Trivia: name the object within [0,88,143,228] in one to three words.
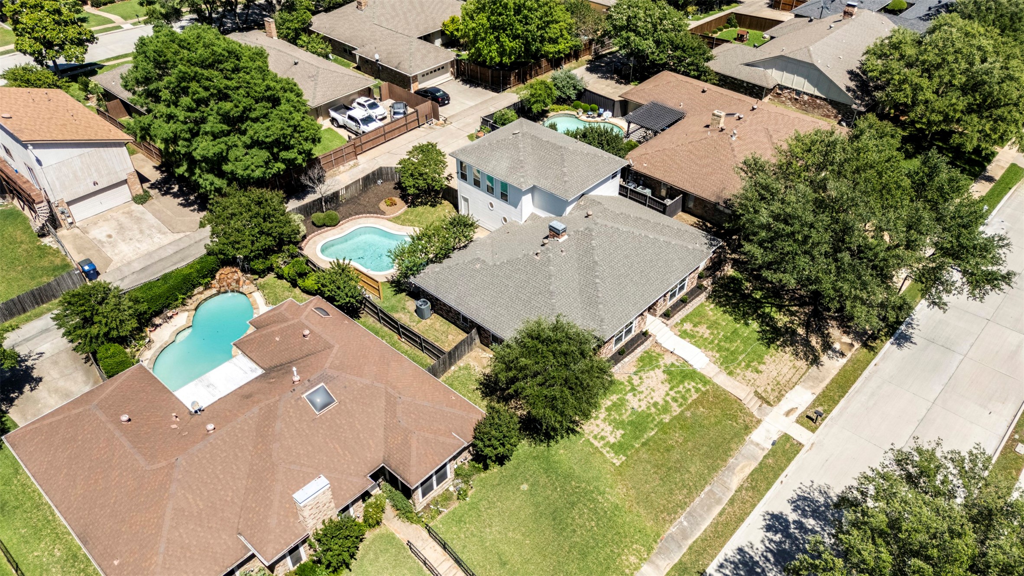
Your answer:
house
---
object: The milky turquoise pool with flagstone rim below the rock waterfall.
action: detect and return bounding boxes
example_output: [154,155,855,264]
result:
[145,285,263,393]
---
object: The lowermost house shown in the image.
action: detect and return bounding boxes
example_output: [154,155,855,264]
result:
[0,294,481,576]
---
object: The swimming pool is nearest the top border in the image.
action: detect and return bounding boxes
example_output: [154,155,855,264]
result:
[539,110,628,140]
